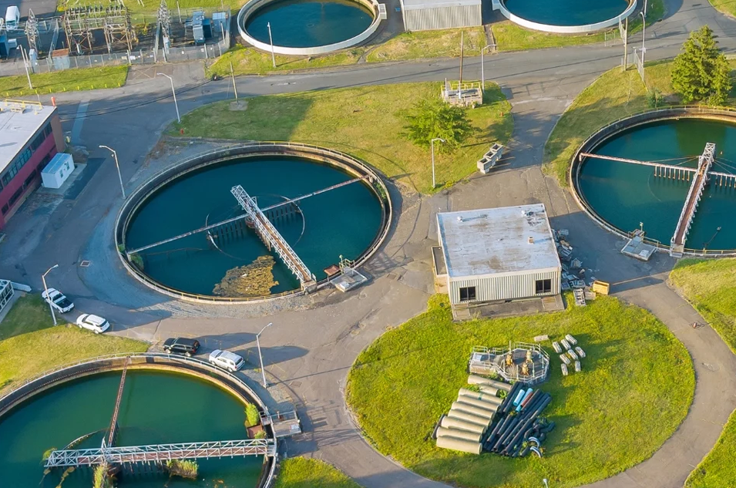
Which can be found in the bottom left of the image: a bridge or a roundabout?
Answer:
bridge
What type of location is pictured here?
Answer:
industrial area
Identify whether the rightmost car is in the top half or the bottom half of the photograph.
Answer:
bottom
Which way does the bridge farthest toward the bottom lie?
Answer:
horizontally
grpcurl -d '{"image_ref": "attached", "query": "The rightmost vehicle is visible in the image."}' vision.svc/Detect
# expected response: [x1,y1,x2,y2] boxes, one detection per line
[205,349,245,371]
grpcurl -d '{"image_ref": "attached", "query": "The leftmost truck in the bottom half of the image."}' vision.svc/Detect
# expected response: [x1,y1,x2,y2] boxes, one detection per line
[40,287,75,311]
